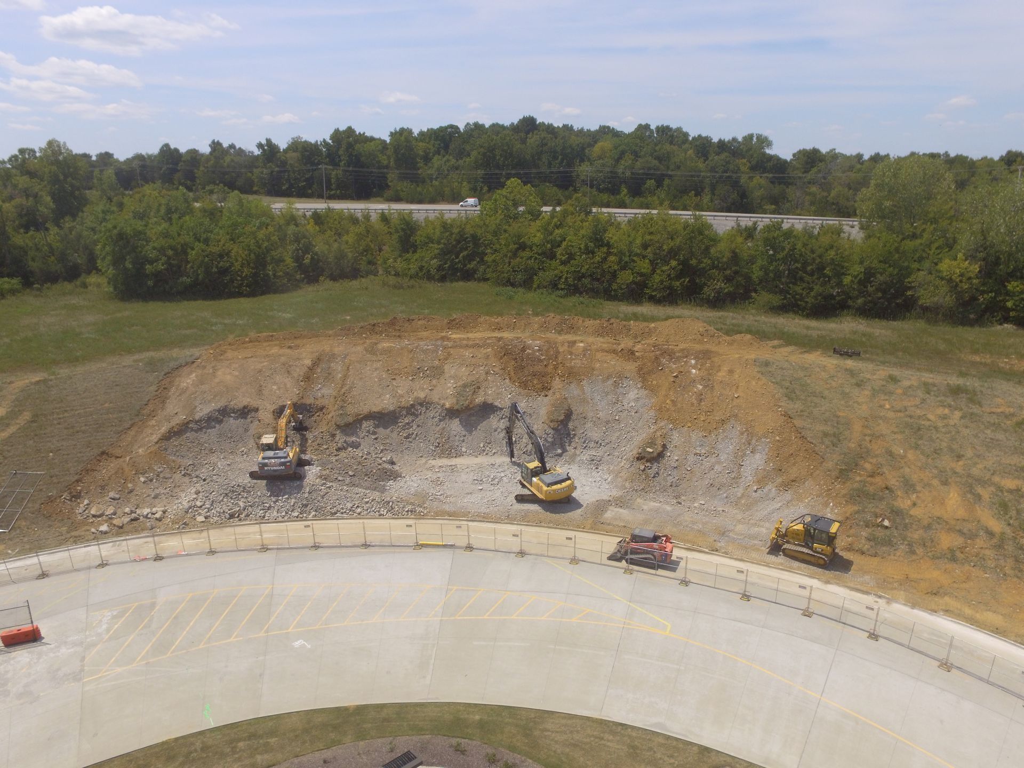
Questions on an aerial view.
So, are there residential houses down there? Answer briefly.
No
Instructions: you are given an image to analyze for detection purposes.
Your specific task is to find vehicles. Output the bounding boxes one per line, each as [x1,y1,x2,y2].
[763,511,848,569]
[248,405,309,481]
[603,525,674,570]
[460,199,479,209]
[507,400,574,503]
